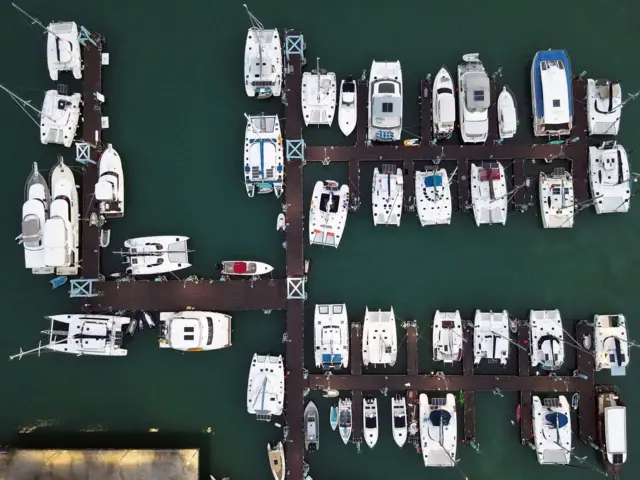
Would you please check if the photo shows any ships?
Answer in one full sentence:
Yes, a ship is visible in the scene.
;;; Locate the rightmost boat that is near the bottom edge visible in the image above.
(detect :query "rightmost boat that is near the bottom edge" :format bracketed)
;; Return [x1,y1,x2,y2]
[594,382,627,480]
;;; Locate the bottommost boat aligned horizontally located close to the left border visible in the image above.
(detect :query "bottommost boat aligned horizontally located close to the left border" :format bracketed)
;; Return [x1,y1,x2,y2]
[4,314,134,361]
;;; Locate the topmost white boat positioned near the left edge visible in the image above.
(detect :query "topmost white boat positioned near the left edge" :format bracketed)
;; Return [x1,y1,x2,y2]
[9,1,86,84]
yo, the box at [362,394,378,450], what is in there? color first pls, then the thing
white boat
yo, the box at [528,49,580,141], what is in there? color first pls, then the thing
white ship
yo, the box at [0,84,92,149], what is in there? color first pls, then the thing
white boat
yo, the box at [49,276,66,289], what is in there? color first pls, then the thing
blue boat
